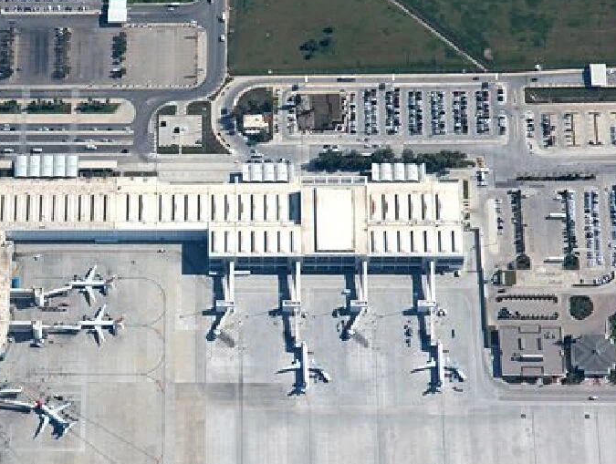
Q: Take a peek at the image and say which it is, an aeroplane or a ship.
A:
aeroplane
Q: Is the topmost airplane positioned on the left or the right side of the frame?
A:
left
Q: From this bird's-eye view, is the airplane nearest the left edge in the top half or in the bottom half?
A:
bottom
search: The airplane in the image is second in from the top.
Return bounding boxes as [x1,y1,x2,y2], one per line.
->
[84,306,123,345]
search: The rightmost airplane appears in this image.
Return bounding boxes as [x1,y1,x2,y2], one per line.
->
[414,343,467,389]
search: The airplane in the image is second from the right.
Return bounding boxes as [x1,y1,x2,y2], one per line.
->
[277,343,331,390]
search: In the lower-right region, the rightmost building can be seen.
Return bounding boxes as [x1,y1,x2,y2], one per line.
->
[570,337,616,376]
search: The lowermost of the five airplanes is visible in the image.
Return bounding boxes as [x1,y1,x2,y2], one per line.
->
[37,393,76,432]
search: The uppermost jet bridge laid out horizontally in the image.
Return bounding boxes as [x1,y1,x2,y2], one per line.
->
[13,283,75,309]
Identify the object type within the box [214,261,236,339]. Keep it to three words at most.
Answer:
jet bridge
